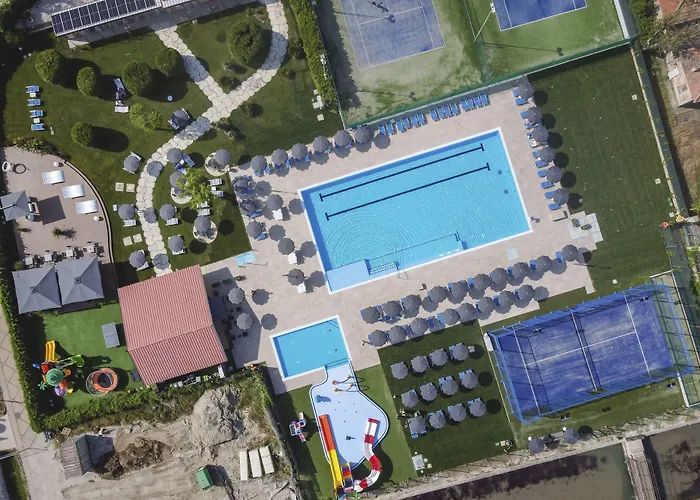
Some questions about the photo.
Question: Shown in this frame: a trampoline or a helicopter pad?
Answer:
trampoline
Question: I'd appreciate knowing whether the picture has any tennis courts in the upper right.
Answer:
Yes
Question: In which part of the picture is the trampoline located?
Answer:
bottom left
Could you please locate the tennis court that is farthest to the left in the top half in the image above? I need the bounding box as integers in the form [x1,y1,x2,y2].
[339,0,445,69]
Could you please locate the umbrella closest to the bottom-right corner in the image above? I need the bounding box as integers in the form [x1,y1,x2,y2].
[562,427,580,446]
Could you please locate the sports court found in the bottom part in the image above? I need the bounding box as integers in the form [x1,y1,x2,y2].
[490,283,694,422]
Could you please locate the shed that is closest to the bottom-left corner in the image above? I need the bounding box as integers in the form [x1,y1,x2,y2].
[56,436,93,482]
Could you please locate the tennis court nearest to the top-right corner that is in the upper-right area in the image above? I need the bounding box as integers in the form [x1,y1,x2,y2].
[494,0,587,31]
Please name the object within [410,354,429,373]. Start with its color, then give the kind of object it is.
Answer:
gray umbrella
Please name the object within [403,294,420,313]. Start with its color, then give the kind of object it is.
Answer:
gray umbrella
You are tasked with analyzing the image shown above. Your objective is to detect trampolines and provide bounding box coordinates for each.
[86,366,120,397]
